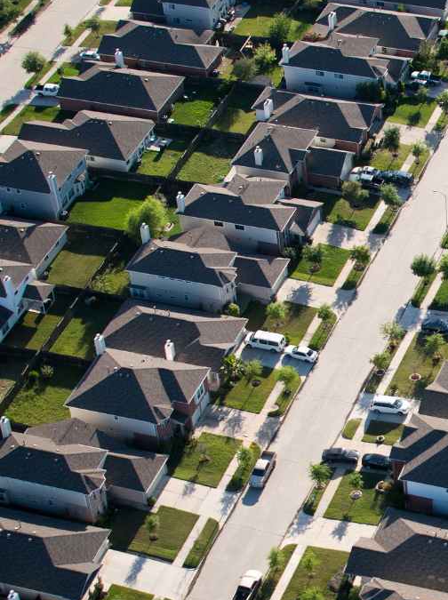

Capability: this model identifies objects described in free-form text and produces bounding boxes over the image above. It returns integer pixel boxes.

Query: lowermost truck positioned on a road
[228,568,261,600]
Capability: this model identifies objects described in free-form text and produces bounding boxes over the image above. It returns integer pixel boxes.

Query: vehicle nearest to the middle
[245,327,289,350]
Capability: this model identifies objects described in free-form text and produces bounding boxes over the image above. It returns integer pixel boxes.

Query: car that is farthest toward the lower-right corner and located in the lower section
[360,449,396,468]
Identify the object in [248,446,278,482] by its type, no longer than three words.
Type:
truck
